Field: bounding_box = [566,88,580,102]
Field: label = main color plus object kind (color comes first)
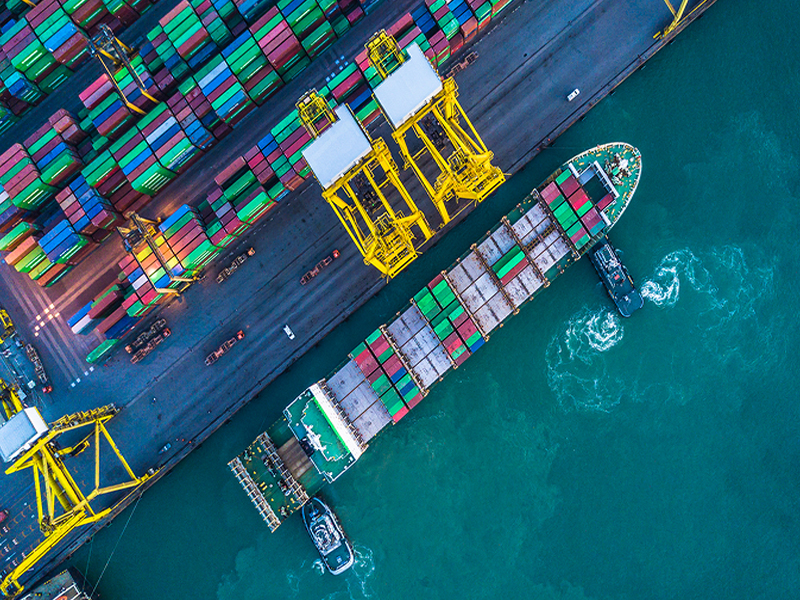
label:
white vehicle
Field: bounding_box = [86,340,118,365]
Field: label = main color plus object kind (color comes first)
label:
green shipping container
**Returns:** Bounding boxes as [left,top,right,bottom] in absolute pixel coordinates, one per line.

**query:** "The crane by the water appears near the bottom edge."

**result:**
[0,367,150,600]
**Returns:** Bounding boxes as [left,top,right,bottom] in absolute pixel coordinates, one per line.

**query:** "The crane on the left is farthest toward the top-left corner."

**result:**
[85,25,159,117]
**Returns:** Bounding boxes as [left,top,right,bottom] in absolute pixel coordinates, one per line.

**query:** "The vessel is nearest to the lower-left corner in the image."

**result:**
[27,563,104,600]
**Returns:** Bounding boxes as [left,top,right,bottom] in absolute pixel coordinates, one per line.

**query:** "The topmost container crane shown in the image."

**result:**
[652,0,709,44]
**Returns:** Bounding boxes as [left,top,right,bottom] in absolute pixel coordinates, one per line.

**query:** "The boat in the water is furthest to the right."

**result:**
[589,234,642,320]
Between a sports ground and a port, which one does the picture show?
port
